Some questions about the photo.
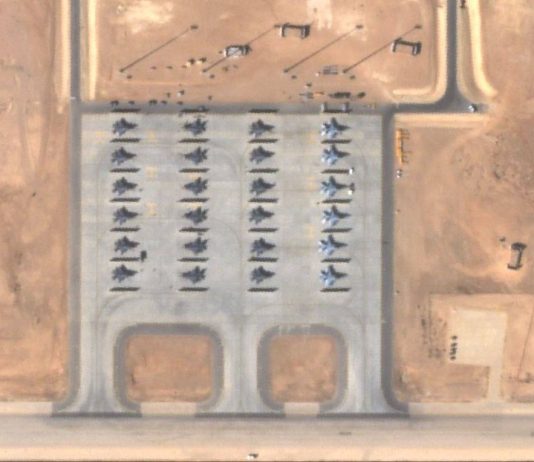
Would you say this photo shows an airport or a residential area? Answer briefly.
airport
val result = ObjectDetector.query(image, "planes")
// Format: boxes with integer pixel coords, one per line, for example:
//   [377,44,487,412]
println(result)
[250,182,271,197]
[321,149,344,166]
[180,212,201,226]
[180,151,201,166]
[180,183,201,198]
[251,242,271,257]
[114,212,135,226]
[250,211,270,225]
[250,124,270,139]
[181,242,201,257]
[321,211,345,227]
[112,121,132,137]
[180,123,201,138]
[319,182,342,199]
[114,241,135,257]
[112,183,133,198]
[321,124,344,140]
[318,241,342,257]
[179,271,200,286]
[250,271,271,286]
[318,270,341,287]
[250,150,271,165]
[113,270,134,285]
[111,152,132,167]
